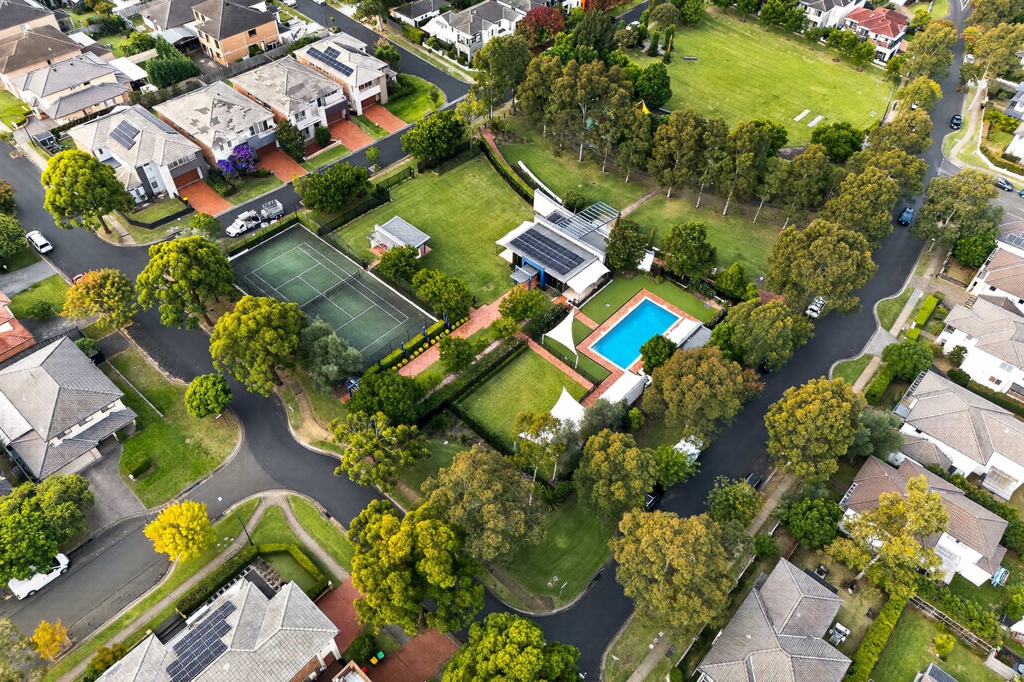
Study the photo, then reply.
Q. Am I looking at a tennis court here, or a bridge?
tennis court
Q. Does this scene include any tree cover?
Yes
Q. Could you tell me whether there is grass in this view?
Yes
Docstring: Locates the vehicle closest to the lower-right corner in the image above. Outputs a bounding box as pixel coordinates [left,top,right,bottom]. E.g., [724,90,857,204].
[744,465,770,490]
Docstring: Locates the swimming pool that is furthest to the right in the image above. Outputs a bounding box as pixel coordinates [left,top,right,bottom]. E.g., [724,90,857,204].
[593,299,680,371]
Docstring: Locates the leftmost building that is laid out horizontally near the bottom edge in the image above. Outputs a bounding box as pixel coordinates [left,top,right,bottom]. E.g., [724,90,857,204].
[92,579,343,682]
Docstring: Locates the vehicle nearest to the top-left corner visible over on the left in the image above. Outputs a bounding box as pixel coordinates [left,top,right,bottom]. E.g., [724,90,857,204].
[27,228,52,249]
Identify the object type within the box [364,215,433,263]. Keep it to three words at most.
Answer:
building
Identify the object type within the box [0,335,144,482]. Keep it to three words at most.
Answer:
house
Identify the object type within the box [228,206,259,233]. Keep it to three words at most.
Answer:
truck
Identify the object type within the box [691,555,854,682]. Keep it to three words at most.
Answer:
house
